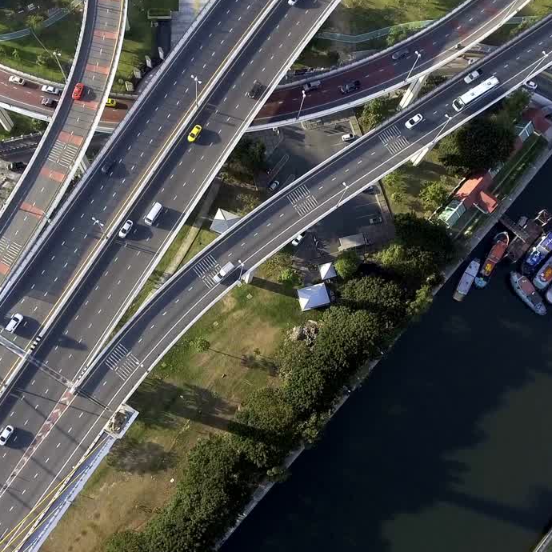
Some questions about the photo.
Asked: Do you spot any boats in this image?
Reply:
Yes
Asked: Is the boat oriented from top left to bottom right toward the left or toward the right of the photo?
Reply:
right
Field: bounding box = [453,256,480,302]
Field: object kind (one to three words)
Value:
boat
